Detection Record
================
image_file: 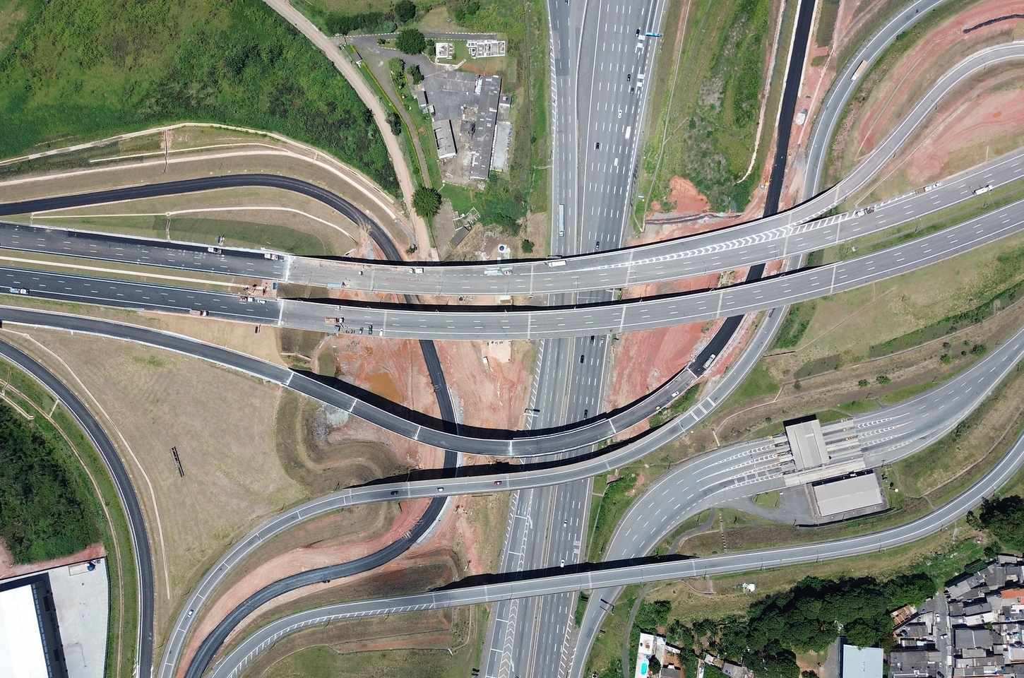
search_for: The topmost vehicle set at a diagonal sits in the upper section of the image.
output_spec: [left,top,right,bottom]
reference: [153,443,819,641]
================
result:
[851,58,870,79]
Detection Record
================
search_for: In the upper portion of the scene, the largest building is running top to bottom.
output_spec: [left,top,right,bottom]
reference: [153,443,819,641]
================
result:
[470,75,501,179]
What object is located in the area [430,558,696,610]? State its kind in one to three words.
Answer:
bridge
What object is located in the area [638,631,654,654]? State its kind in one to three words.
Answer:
building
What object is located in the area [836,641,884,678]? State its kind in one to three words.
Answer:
building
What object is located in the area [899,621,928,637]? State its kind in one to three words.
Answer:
house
